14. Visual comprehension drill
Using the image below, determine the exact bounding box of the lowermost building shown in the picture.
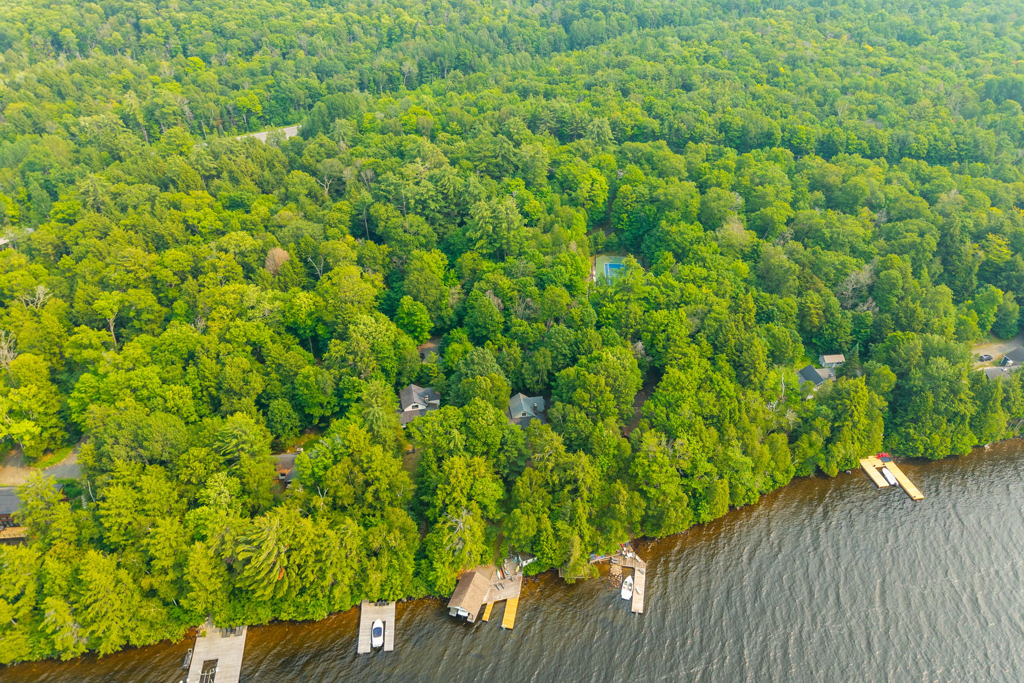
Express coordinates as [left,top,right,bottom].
[447,572,490,625]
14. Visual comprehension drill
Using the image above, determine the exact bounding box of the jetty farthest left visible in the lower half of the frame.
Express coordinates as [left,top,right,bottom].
[187,626,247,683]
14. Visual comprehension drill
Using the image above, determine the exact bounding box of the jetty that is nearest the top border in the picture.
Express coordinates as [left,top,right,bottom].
[860,456,924,500]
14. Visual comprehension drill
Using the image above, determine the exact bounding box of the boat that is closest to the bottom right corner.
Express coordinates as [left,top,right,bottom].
[883,467,899,487]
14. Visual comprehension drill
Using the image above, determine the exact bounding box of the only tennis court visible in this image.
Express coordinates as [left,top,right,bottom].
[596,255,653,309]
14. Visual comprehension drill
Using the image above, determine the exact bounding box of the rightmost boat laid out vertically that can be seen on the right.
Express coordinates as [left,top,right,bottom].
[621,576,633,602]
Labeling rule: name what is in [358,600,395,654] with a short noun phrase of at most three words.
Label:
pier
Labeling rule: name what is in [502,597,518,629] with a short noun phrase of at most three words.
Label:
pier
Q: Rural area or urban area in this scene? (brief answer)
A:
rural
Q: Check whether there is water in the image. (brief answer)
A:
Yes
